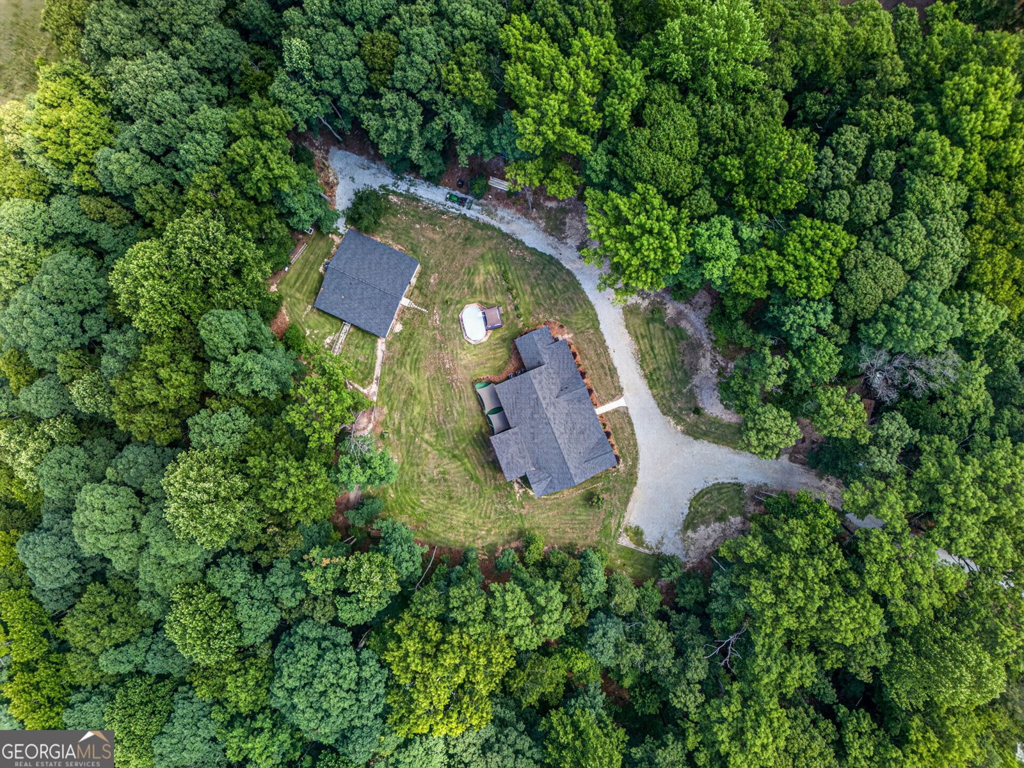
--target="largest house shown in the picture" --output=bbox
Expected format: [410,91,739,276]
[489,325,619,499]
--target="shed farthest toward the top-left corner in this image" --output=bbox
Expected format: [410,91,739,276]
[313,229,419,338]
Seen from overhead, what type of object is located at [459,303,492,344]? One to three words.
swimming pool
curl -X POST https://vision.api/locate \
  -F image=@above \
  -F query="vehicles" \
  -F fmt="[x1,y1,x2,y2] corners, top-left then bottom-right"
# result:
[449,190,474,209]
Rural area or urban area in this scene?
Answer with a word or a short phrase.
rural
